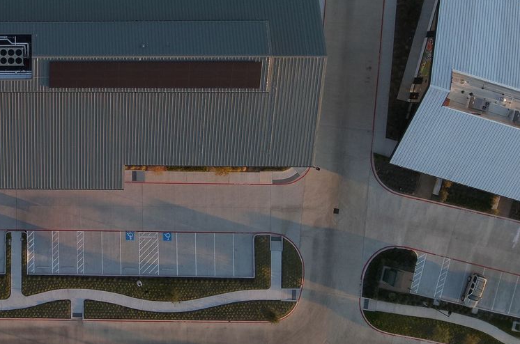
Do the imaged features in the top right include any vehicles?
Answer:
No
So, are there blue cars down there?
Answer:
No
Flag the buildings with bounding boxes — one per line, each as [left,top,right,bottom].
[387,0,520,201]
[0,0,329,191]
